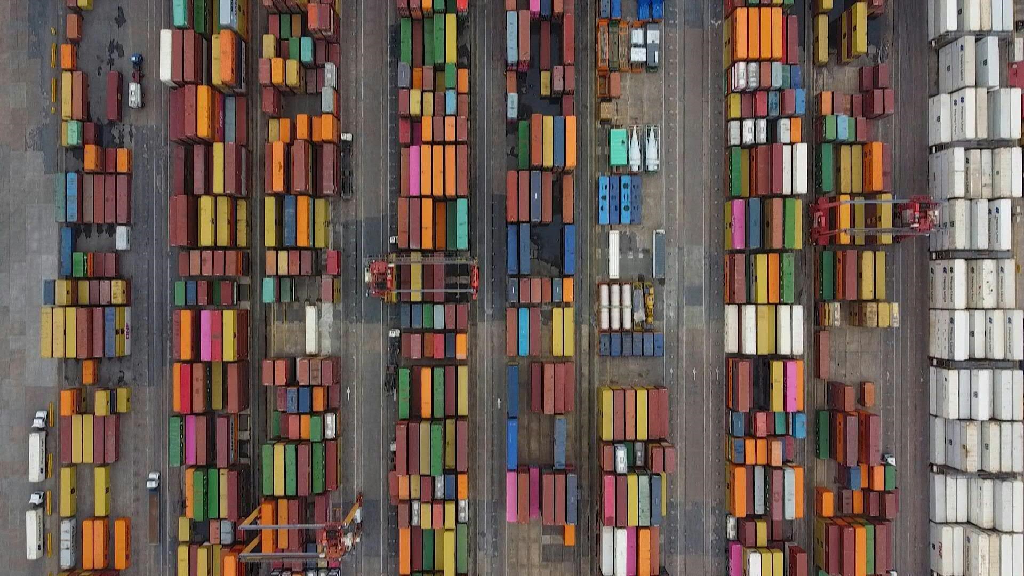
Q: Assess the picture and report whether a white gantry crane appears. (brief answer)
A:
No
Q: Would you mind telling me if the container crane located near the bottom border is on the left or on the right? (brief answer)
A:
left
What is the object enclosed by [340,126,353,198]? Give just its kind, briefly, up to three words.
vehicle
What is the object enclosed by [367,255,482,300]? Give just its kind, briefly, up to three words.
container crane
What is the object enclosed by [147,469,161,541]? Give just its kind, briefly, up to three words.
vehicle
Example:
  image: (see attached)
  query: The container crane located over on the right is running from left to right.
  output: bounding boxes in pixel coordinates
[810,198,949,246]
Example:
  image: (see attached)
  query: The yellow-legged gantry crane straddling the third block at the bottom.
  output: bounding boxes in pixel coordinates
[238,493,364,563]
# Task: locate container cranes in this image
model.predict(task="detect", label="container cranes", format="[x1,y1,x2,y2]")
[810,198,949,246]
[238,493,364,563]
[367,255,482,300]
